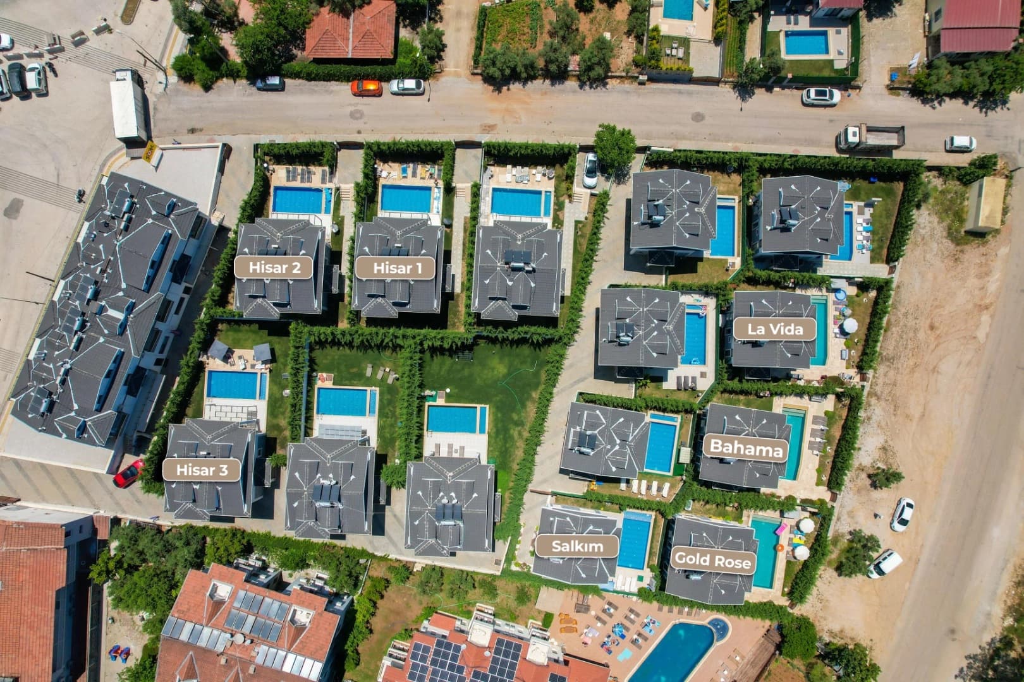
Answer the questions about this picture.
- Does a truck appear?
Yes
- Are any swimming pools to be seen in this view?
Yes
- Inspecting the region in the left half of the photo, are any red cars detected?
Yes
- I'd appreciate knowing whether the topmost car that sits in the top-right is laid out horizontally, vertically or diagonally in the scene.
horizontally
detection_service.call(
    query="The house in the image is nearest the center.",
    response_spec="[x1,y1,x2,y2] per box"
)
[470,214,567,320]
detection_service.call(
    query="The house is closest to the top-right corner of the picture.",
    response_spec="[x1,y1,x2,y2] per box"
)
[919,0,1021,65]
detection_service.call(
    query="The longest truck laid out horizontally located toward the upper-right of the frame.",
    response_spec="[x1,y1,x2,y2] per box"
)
[835,122,906,149]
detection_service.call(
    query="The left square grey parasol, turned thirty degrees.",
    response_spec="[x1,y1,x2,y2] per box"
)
[206,338,240,363]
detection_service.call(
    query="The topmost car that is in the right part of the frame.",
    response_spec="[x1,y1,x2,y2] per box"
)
[803,84,843,104]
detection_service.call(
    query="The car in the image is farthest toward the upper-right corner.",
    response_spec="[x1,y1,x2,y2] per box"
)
[947,133,980,151]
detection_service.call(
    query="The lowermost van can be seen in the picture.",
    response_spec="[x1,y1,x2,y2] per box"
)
[869,549,910,581]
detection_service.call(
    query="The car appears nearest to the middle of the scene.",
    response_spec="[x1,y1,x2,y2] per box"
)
[582,151,600,188]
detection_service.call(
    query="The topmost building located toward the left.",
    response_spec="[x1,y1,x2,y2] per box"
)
[305,0,395,65]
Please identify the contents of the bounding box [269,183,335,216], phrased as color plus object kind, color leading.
blue swimming pool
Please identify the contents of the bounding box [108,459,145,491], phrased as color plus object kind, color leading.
red car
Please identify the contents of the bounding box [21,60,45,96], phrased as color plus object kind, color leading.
white car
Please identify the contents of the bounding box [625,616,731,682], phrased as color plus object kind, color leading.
blue swimming pool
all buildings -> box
[809,0,863,20]
[470,214,567,320]
[231,212,346,319]
[722,291,818,381]
[352,211,455,317]
[964,177,1007,231]
[691,403,792,492]
[919,0,1021,65]
[749,172,845,273]
[147,541,362,682]
[596,289,686,380]
[305,0,395,65]
[0,141,233,475]
[661,510,760,608]
[403,440,503,557]
[530,495,624,593]
[0,509,96,682]
[560,397,653,487]
[283,423,391,539]
[625,168,717,270]
[381,601,611,682]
